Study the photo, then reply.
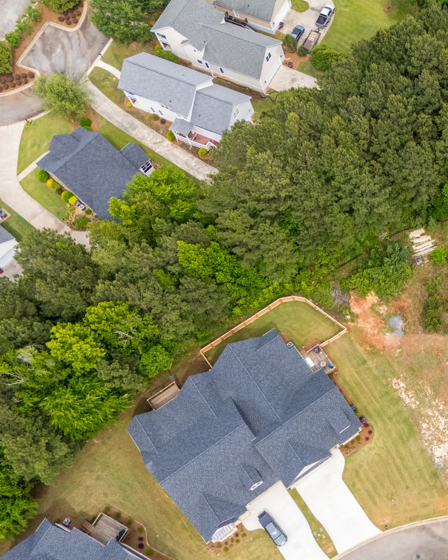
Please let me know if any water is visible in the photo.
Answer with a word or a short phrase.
No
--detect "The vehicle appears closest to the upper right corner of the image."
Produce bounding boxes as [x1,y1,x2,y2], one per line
[313,4,335,31]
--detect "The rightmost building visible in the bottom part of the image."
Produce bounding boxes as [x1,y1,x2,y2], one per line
[127,327,362,543]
